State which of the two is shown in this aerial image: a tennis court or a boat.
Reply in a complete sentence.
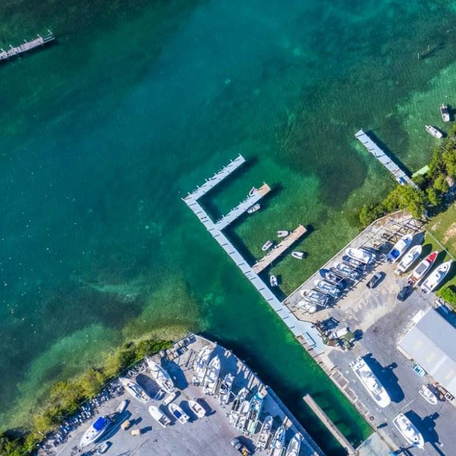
Visible in the photo is a boat.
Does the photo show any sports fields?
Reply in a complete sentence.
No, there's no sports field here.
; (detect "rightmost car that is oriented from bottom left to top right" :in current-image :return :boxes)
[396,286,415,304]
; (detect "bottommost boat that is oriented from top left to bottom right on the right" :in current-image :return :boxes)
[391,413,424,448]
